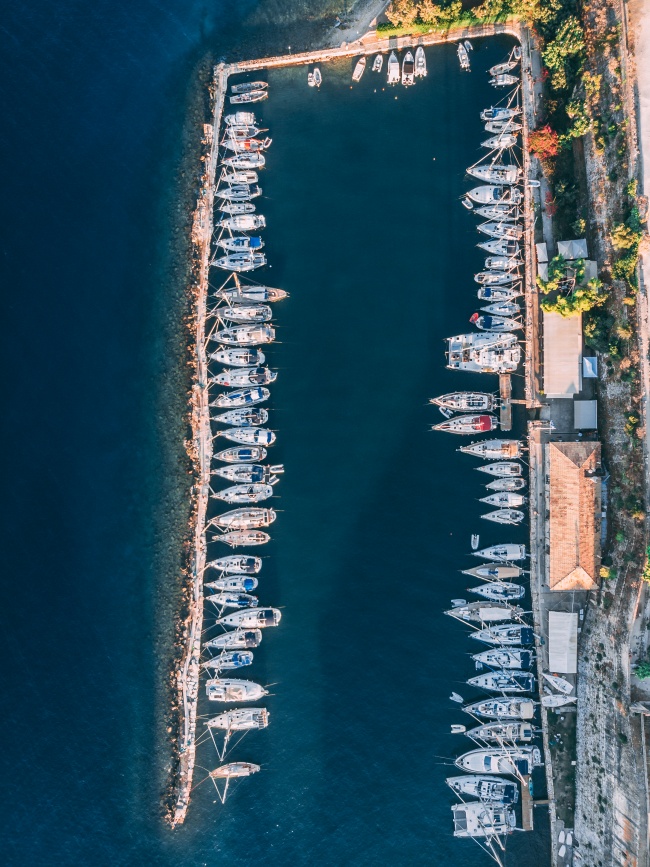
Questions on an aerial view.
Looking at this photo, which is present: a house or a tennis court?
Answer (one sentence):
I can see a house in this picture.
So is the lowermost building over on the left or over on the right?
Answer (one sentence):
You can find the lowermost building on the right side of the picture.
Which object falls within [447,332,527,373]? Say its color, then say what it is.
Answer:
white boat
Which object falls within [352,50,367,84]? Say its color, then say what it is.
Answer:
white boat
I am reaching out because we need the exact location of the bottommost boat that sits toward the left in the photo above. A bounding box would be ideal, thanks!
[190,760,277,809]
